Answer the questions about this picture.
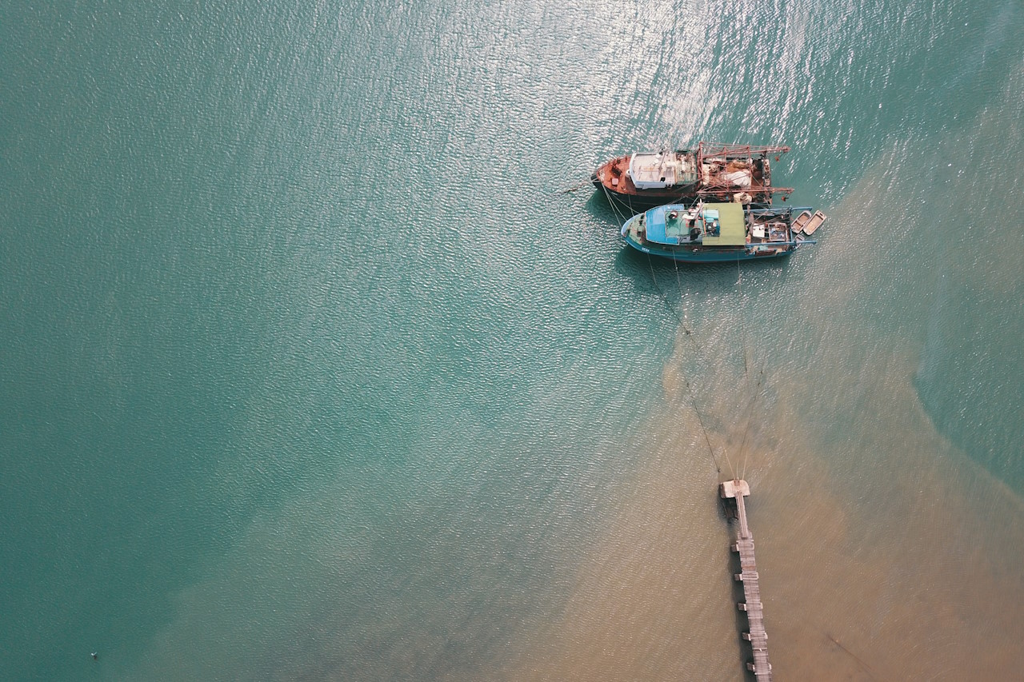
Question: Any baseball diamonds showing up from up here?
No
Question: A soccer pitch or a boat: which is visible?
boat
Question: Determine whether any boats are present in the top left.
No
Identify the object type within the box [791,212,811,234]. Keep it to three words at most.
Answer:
boat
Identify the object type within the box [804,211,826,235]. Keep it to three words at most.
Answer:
boat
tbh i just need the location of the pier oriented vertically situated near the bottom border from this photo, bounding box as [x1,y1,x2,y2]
[731,533,774,682]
